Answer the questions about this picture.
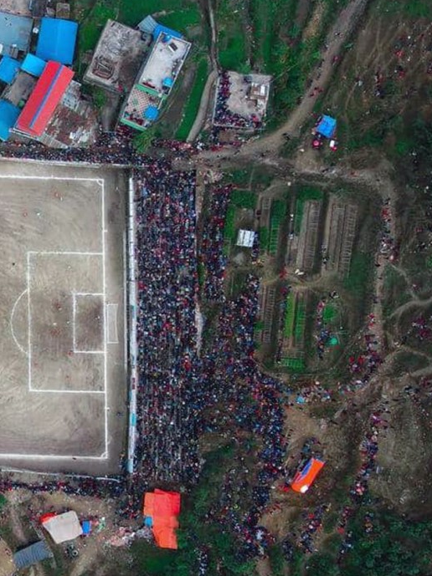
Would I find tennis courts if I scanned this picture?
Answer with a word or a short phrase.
No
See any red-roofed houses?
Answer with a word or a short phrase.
Yes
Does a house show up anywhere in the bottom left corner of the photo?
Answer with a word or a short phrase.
Yes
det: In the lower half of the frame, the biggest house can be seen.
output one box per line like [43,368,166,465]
[13,538,49,569]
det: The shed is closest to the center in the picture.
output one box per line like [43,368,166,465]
[233,230,254,246]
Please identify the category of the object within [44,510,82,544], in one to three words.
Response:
tent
